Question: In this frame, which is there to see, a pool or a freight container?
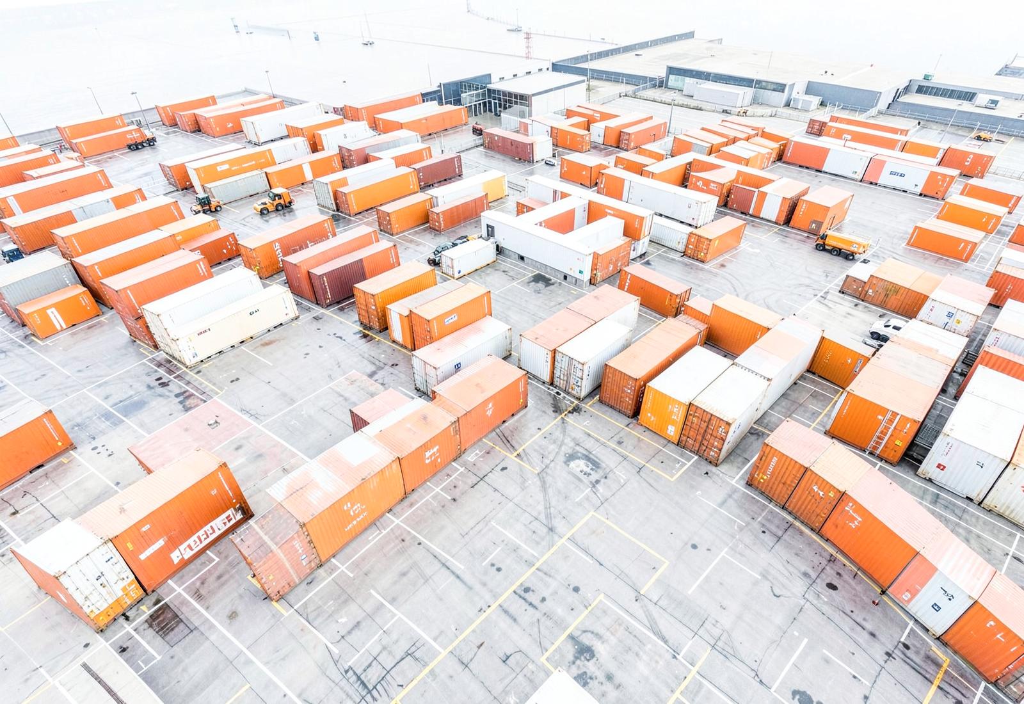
freight container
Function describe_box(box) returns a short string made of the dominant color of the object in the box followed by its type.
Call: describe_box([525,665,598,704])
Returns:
white shipping container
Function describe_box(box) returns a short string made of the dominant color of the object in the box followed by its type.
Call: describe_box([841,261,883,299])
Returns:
white shipping container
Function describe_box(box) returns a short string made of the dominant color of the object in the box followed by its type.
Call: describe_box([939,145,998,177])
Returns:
red shipping container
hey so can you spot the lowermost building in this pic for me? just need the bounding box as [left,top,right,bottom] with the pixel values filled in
[481,208,601,289]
